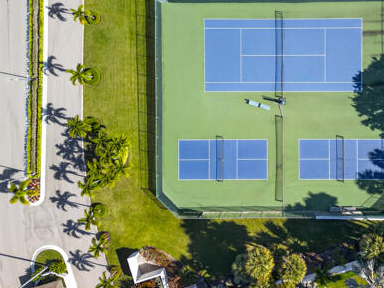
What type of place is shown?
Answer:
sports ground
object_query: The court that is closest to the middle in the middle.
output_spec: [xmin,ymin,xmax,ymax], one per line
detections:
[178,139,268,180]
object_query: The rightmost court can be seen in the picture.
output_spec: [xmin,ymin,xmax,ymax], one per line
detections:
[299,139,384,180]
